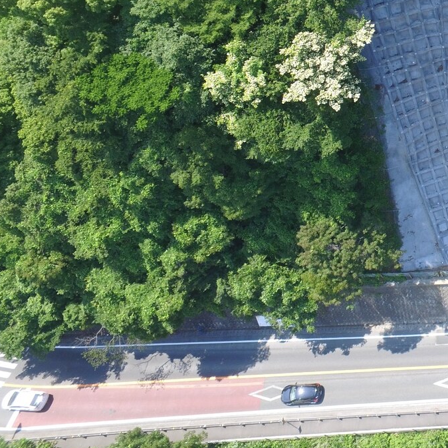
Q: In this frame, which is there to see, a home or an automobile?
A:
automobile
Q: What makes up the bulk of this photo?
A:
trees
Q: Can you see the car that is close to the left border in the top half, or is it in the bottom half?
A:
bottom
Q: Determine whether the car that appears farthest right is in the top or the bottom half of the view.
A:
bottom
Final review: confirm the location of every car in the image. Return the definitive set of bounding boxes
[281,381,325,406]
[0,388,54,413]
